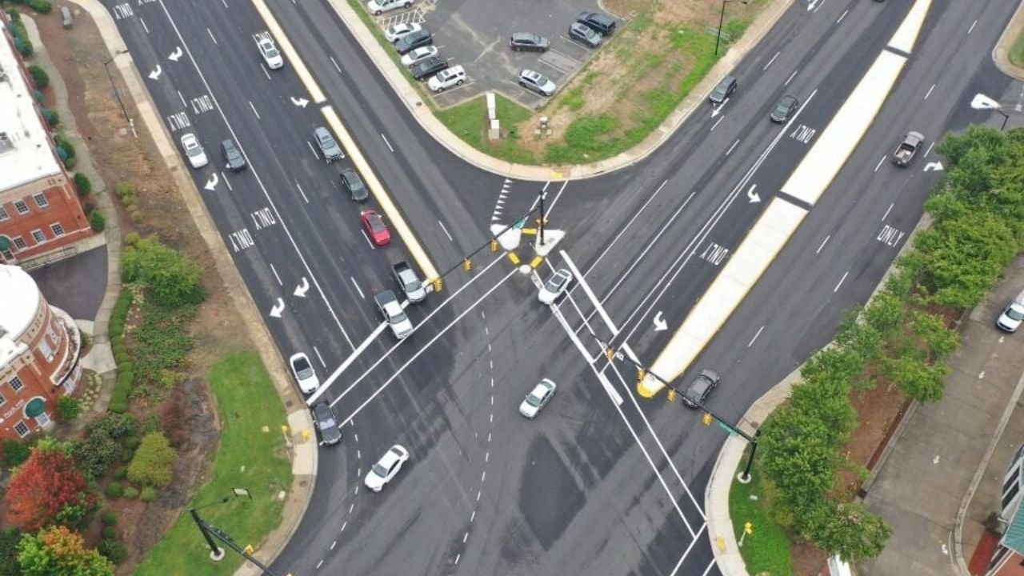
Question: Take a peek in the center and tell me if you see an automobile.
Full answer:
Yes, there is an automobile in the center.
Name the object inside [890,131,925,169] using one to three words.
truck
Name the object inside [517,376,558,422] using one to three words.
car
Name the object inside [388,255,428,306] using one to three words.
truck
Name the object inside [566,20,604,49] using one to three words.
car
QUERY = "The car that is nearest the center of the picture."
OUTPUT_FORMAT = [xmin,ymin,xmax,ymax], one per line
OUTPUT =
[538,267,574,307]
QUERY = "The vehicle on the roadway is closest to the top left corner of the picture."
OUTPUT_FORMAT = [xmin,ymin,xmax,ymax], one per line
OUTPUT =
[179,131,208,168]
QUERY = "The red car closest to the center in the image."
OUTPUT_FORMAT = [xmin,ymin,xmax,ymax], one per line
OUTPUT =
[360,209,391,247]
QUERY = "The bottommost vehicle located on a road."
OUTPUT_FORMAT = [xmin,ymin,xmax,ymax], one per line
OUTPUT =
[365,443,409,494]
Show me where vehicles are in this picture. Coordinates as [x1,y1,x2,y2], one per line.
[890,131,925,169]
[388,255,428,306]
[312,125,342,162]
[566,20,604,49]
[395,28,435,55]
[517,376,558,422]
[339,167,369,204]
[258,37,284,67]
[426,62,468,93]
[365,443,409,494]
[577,9,617,35]
[400,44,440,68]
[311,401,343,446]
[510,34,550,55]
[681,367,719,412]
[218,139,245,171]
[383,20,424,42]
[709,72,740,105]
[373,287,415,340]
[410,53,451,81]
[288,351,321,397]
[770,94,800,125]
[360,209,391,247]
[516,67,556,97]
[538,267,574,307]
[179,131,208,168]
